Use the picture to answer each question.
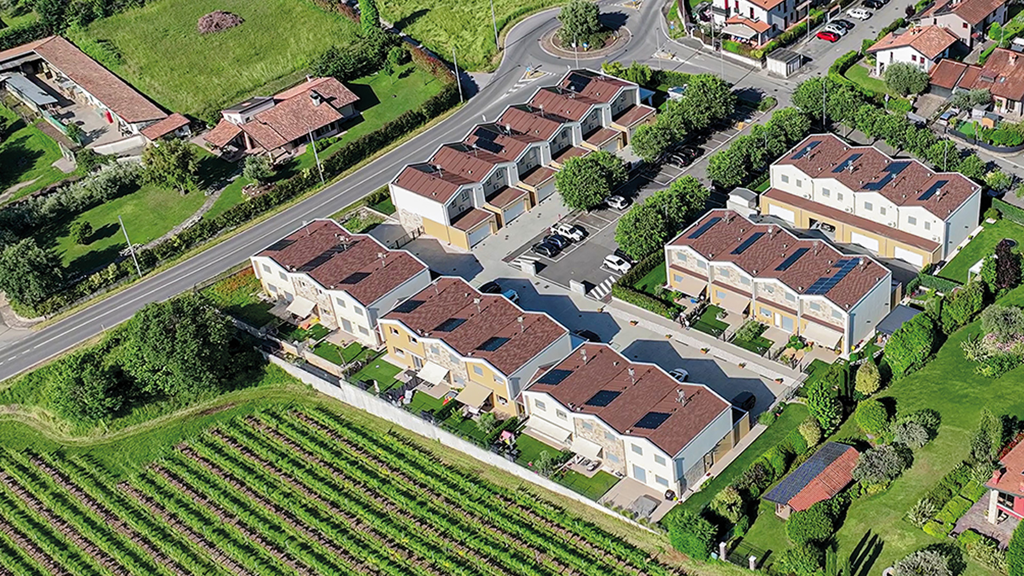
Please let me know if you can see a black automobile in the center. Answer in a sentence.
Yes, a black automobile can be seen in the center.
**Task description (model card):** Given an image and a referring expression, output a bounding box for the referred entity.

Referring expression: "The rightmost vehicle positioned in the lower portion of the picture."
[729,387,762,416]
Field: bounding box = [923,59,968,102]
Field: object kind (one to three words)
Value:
building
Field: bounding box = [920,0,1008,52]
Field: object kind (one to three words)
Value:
house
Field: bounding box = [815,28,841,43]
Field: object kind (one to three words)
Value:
car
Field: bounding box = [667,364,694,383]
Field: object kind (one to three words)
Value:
car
